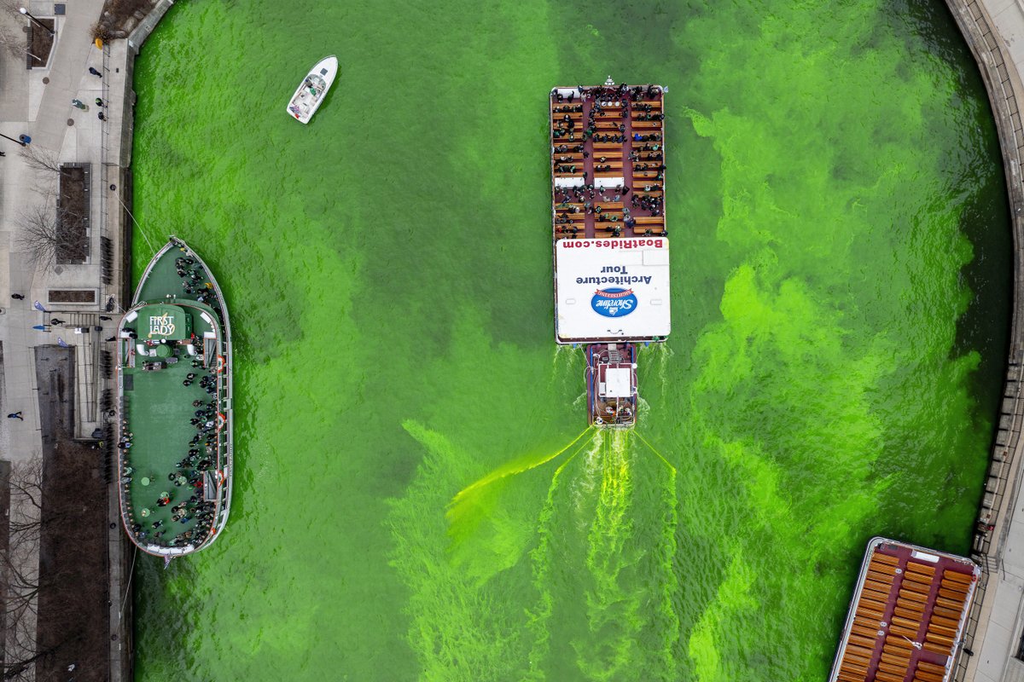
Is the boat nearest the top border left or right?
left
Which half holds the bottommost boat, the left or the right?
right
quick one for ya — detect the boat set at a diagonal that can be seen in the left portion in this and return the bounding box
[287,55,339,126]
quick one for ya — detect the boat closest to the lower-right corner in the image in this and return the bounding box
[827,535,981,682]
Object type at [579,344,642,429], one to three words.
boat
